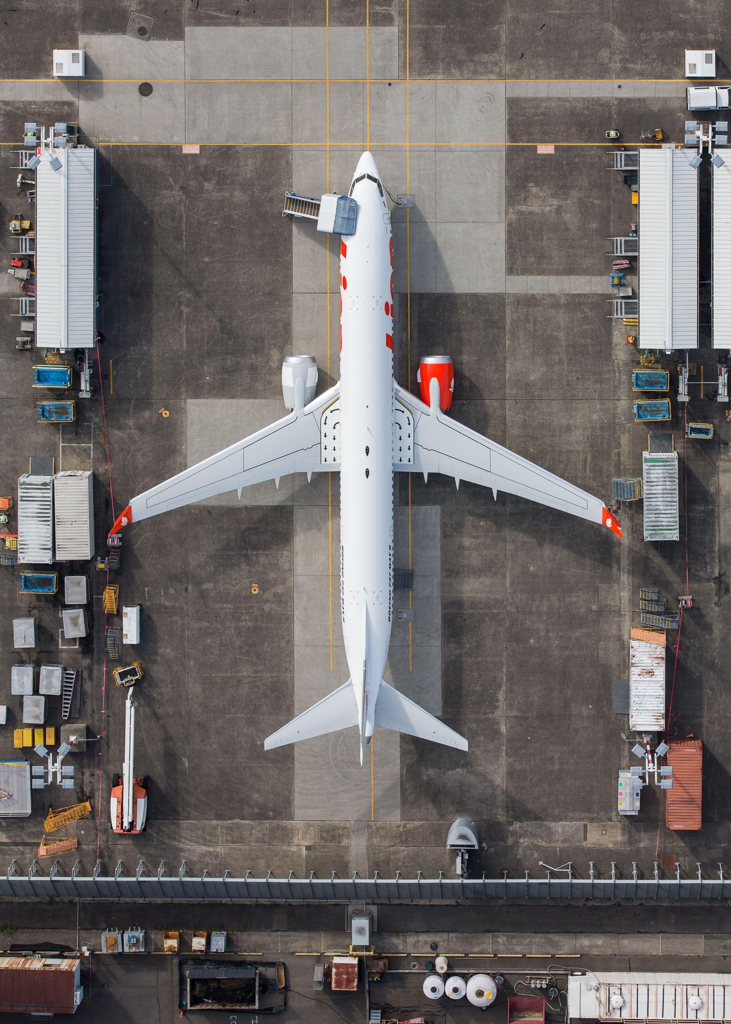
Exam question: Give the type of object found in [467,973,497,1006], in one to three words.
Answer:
water tank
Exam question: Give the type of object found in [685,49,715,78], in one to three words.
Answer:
building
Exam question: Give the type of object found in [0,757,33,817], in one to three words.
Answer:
building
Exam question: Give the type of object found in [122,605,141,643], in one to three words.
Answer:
trailer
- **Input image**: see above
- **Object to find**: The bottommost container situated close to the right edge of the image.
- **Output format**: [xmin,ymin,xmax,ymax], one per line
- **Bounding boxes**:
[667,740,702,830]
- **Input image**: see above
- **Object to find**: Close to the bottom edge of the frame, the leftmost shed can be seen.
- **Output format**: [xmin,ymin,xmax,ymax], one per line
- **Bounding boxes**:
[0,950,81,1020]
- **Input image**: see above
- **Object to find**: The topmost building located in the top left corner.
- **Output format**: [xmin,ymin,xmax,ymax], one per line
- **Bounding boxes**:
[53,49,85,77]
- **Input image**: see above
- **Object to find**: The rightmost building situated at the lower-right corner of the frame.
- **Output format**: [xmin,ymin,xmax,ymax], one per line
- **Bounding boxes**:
[568,970,731,1023]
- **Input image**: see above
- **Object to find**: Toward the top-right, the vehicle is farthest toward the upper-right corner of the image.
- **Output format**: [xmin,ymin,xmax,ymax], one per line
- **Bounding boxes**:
[685,87,731,110]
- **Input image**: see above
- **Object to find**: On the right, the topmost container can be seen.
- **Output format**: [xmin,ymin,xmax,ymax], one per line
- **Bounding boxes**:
[642,452,678,540]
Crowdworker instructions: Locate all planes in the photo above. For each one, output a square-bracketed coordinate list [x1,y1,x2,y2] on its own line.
[107,151,623,764]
